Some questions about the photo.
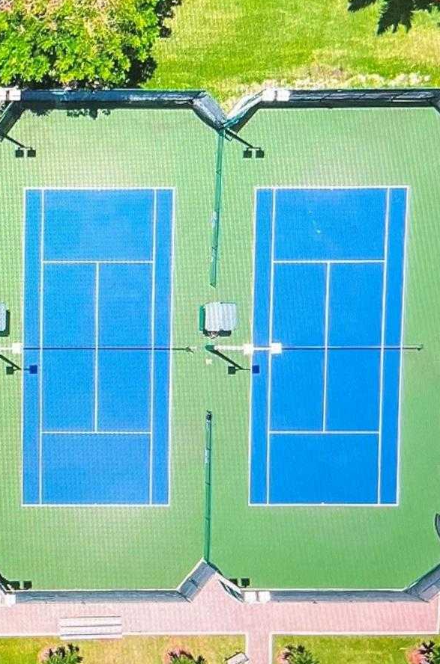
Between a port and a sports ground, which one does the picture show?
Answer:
sports ground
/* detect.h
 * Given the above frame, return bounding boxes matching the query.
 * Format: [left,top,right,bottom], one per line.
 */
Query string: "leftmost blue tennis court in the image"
[22,187,176,506]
